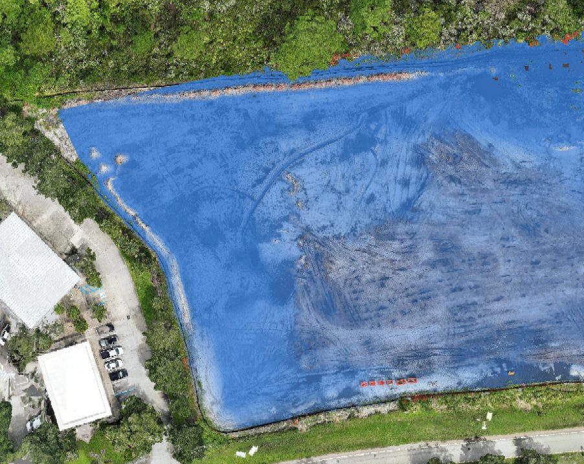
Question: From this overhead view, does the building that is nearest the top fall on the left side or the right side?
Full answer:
It is on the left.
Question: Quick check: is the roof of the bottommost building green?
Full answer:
No, the roof of the bottommost building is actually white.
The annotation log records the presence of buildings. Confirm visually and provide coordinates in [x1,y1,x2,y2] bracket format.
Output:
[0,211,80,328]
[38,341,113,431]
